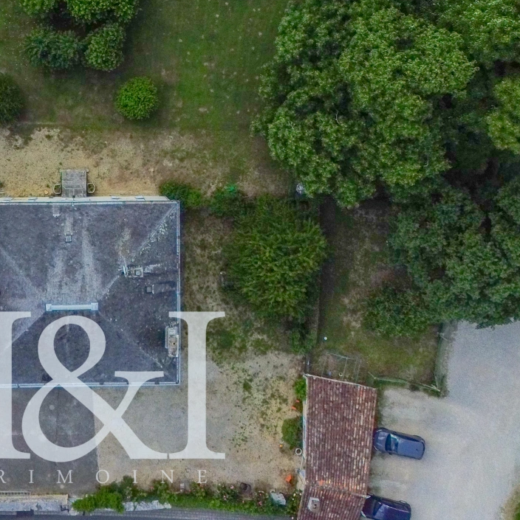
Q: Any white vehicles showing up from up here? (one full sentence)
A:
No, no white vehicle can be seen from above.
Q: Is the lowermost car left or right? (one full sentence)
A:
You can find the lowermost car on the right side of the picture.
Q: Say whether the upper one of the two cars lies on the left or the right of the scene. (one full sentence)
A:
The upper one of the two cars is on the right side of the image.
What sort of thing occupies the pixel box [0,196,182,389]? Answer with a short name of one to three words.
house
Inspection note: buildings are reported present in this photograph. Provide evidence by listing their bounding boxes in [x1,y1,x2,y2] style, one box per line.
[0,196,182,389]
[287,370,377,520]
